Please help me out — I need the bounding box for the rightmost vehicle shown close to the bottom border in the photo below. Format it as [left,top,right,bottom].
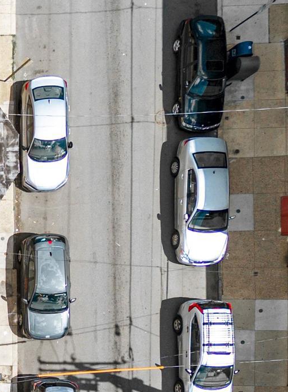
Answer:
[175,293,240,392]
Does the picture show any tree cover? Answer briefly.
No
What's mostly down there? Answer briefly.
paved ground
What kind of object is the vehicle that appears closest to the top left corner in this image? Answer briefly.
car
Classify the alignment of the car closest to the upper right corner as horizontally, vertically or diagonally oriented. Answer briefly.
vertically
